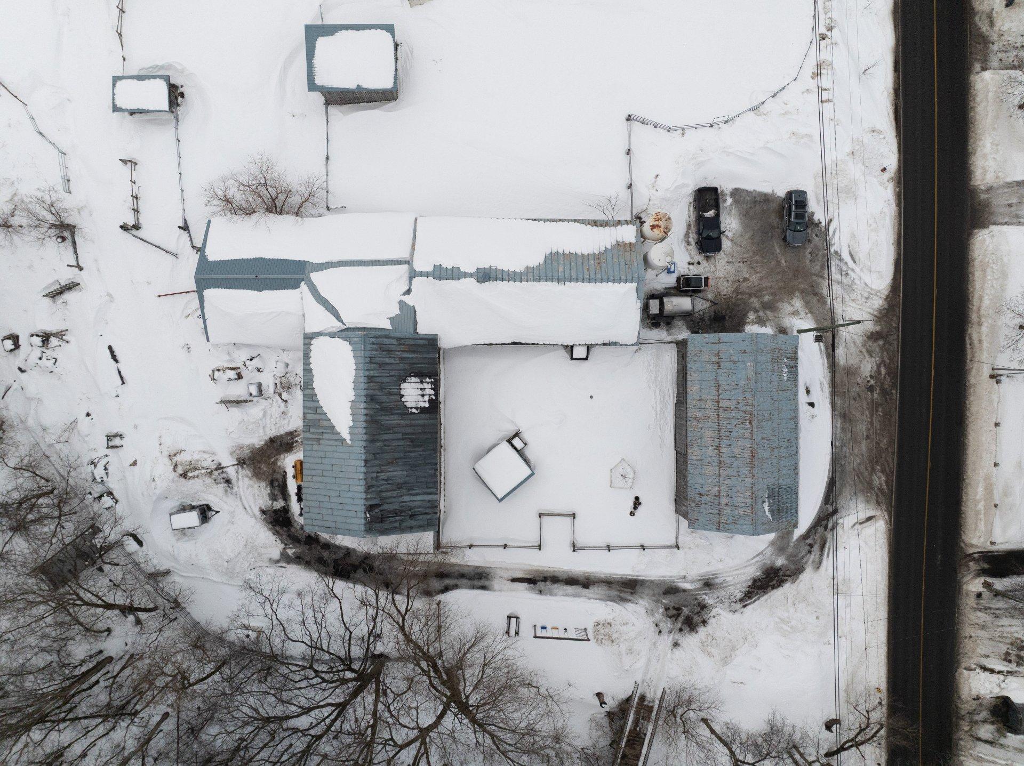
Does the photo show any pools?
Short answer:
No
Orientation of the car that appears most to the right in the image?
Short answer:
up and down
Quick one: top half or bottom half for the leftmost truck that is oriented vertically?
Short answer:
top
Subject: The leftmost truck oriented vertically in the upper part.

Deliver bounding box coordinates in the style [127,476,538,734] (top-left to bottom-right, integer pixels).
[695,183,728,255]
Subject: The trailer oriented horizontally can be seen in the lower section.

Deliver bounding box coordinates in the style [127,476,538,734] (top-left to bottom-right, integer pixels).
[159,502,221,537]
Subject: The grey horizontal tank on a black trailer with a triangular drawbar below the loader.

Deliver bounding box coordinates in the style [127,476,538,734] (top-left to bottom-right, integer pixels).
[648,291,720,322]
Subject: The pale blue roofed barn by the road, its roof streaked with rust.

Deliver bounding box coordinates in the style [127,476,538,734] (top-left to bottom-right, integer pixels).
[676,333,799,535]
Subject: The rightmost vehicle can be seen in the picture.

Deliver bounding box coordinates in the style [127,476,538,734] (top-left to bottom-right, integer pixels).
[786,186,815,245]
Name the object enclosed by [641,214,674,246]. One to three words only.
storage tank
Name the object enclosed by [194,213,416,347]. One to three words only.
barn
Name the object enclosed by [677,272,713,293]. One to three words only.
work vehicle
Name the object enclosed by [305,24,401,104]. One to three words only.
shed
